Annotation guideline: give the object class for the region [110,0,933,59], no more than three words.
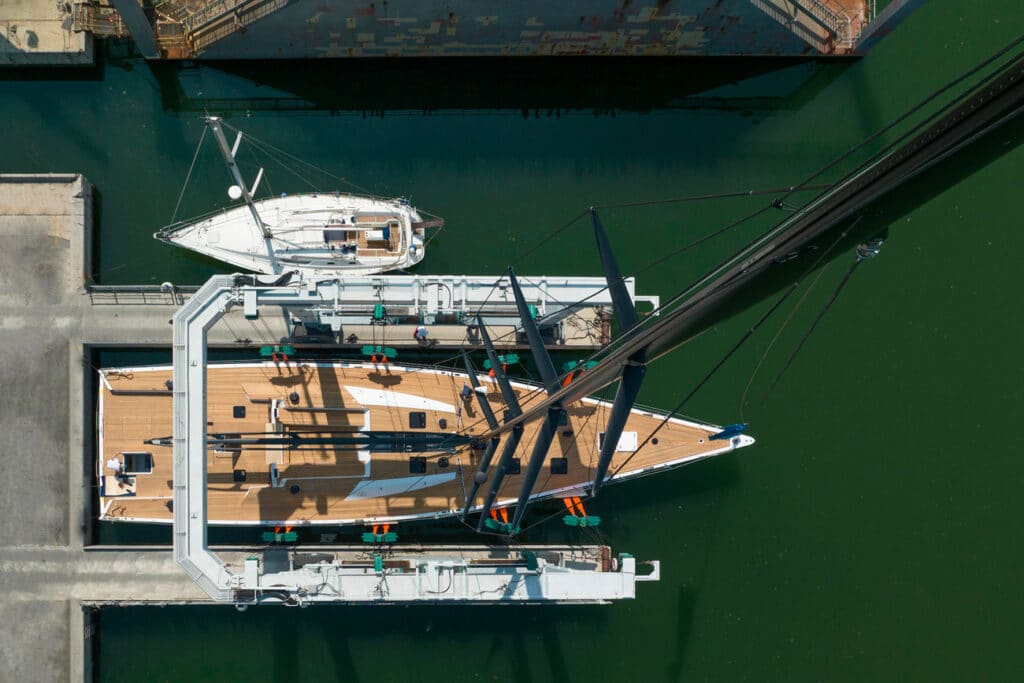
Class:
pier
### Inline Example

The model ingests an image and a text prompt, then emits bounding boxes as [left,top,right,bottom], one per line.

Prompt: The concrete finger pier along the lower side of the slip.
[71,544,611,606]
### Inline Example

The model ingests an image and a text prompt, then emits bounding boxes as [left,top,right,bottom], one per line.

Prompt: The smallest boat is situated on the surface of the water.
[153,104,444,276]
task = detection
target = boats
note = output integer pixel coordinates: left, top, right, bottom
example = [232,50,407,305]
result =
[153,104,444,276]
[98,33,1024,532]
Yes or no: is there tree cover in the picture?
No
